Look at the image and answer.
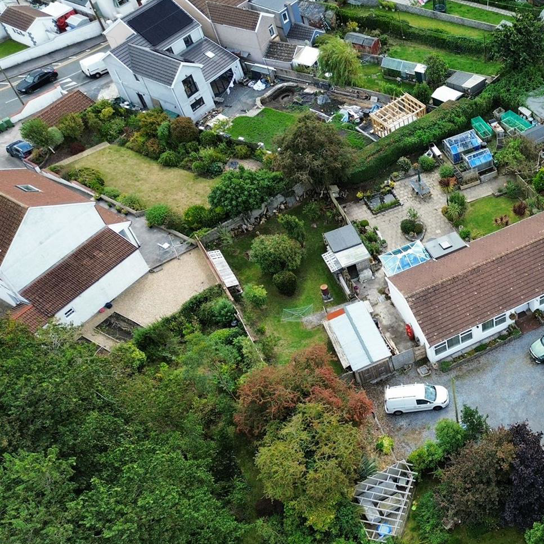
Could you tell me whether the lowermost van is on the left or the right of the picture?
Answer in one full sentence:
The lowermost van sits on the right side.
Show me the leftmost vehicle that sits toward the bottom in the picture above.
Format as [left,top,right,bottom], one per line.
[384,384,448,421]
